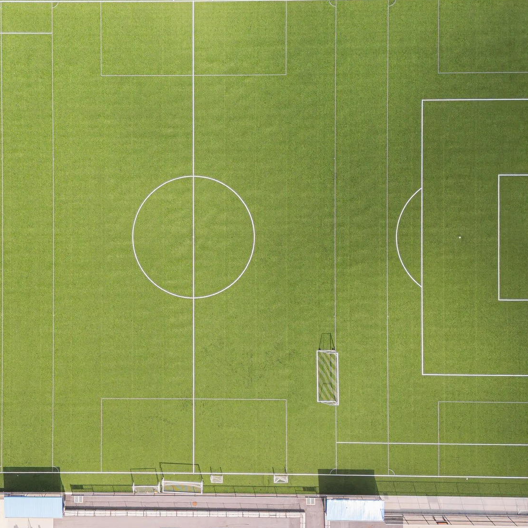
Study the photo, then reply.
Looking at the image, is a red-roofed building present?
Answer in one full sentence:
No, no red-roofed building can be seen from above.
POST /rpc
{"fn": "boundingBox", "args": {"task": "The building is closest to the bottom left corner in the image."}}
[5,491,65,520]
